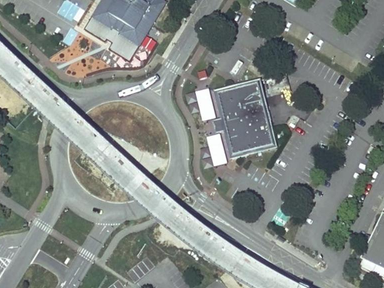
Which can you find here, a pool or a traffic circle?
traffic circle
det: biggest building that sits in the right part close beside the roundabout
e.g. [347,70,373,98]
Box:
[214,78,277,158]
